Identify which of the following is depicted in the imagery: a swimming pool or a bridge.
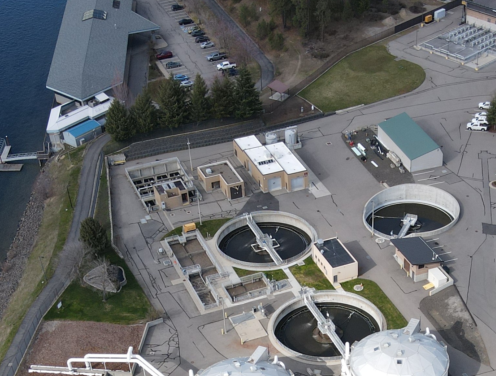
bridge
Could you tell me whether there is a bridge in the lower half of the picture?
Yes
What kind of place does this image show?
industrial area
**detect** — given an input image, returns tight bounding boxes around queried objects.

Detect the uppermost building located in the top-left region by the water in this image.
[46,0,160,102]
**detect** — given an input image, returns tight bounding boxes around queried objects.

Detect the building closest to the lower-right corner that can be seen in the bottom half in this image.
[390,237,444,280]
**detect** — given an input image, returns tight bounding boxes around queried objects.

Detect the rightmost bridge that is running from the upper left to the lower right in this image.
[303,289,350,356]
